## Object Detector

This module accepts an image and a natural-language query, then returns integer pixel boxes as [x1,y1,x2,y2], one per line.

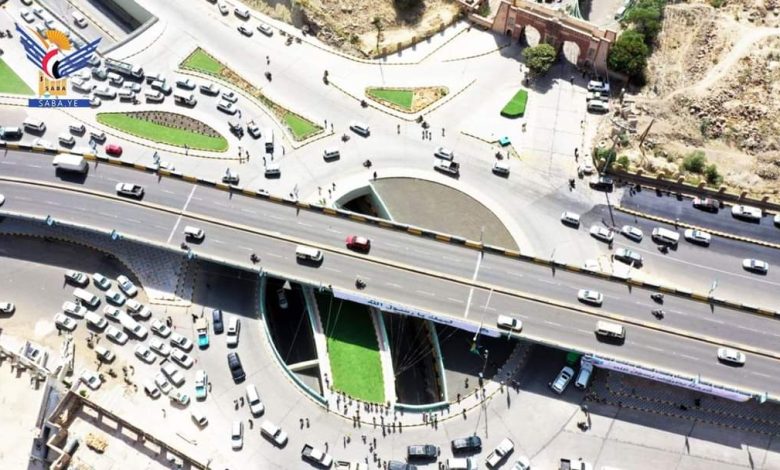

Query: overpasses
[0,146,780,408]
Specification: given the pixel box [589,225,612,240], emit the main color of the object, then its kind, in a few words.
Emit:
white car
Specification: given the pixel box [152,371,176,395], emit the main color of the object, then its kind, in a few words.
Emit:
white car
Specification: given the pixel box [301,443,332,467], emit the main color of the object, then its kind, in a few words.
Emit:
white truck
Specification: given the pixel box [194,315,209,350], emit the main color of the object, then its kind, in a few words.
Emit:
white vehicle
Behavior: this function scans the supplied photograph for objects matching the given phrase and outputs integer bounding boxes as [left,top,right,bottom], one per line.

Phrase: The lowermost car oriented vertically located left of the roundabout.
[229,418,245,450]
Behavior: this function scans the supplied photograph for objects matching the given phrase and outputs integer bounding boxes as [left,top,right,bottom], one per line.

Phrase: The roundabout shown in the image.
[261,167,549,428]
